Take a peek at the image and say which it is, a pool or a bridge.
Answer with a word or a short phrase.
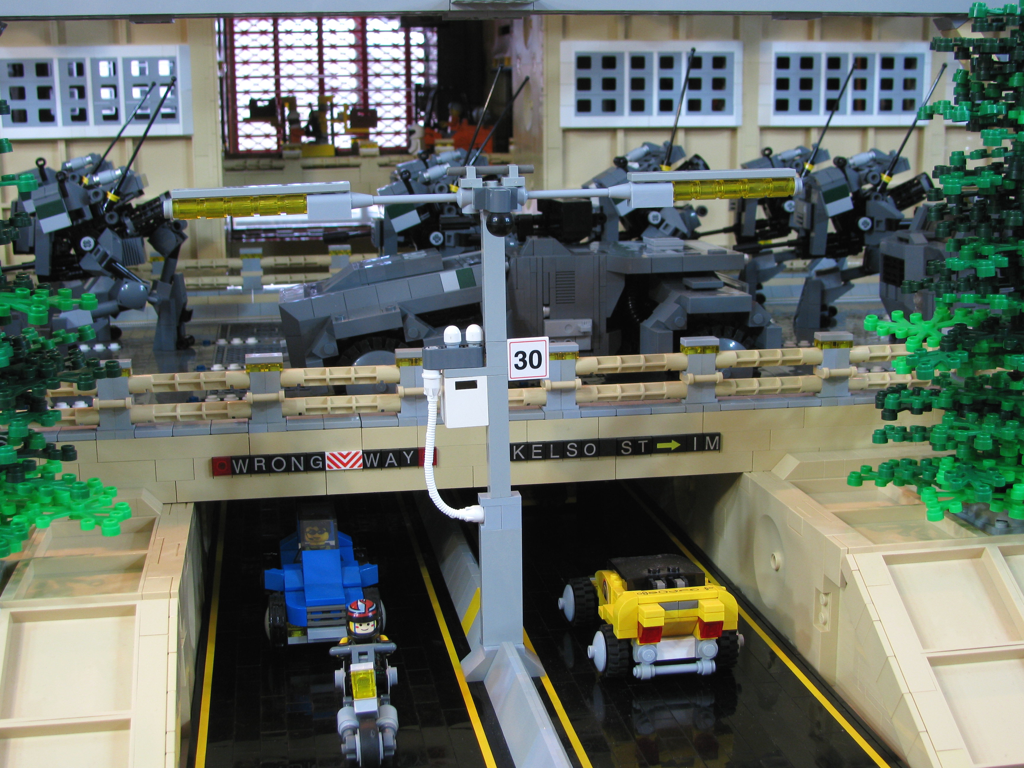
bridge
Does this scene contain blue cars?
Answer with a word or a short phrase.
Yes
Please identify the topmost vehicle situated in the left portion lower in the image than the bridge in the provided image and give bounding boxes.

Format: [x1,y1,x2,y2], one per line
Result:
[259,504,389,641]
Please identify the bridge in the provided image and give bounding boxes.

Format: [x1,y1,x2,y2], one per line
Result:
[21,389,1022,503]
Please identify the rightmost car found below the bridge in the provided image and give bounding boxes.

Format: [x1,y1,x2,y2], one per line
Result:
[557,544,750,676]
